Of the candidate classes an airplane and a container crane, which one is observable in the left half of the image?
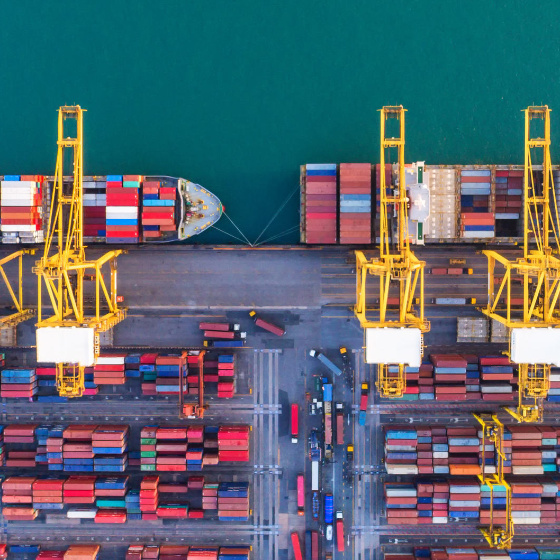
container crane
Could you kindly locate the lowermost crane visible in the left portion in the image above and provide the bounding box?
[178,347,211,424]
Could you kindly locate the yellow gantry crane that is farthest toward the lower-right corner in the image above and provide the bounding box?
[474,471,512,551]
